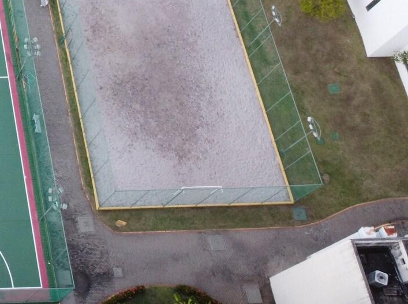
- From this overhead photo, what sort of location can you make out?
sports ground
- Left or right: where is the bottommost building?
right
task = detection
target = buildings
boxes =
[352,0,408,56]
[268,220,408,304]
